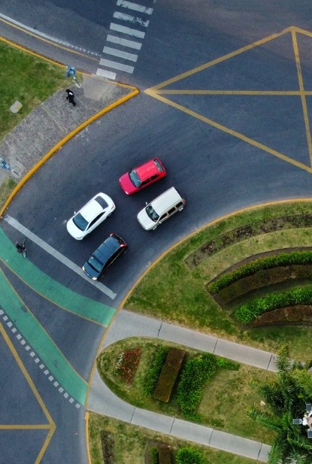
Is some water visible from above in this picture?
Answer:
No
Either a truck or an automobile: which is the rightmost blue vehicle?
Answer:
automobile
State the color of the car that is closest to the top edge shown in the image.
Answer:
red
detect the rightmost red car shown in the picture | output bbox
[115,156,170,197]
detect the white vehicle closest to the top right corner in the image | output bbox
[135,183,188,230]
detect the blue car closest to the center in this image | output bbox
[81,229,130,283]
